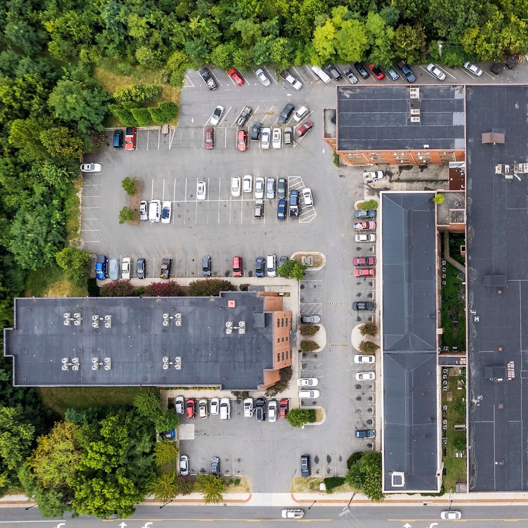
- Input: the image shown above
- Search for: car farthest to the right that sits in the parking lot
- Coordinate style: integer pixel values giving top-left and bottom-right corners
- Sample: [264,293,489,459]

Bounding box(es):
[464,63,483,79]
